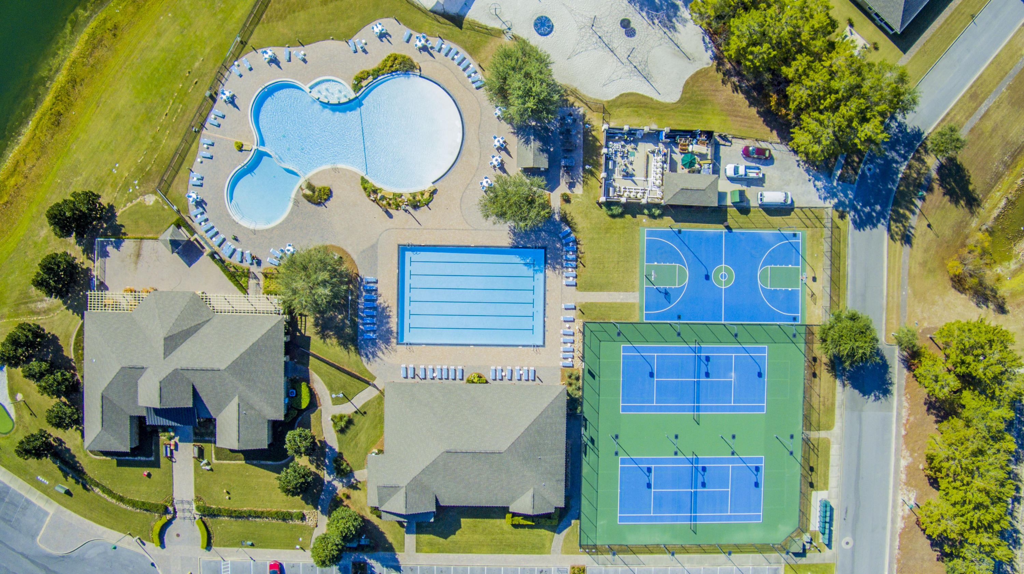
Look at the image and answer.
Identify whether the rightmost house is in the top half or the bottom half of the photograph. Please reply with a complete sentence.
The rightmost house sits in the top half of the picture.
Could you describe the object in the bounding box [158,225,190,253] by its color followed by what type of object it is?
gray gazebo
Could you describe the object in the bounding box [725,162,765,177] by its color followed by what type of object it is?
white vehicle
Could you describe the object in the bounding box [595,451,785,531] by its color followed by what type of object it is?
blue tennis court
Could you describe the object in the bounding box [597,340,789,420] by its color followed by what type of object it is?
blue tennis court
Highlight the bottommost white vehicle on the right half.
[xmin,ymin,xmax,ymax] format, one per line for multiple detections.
[758,190,793,204]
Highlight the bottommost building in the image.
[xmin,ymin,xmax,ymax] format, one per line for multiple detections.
[367,381,565,522]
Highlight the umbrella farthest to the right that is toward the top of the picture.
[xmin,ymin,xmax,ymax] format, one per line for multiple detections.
[681,153,696,169]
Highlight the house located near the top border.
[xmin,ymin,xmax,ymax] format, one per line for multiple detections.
[855,0,930,38]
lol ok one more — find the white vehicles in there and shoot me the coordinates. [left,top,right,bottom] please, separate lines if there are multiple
[758,190,793,204]
[725,162,765,177]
